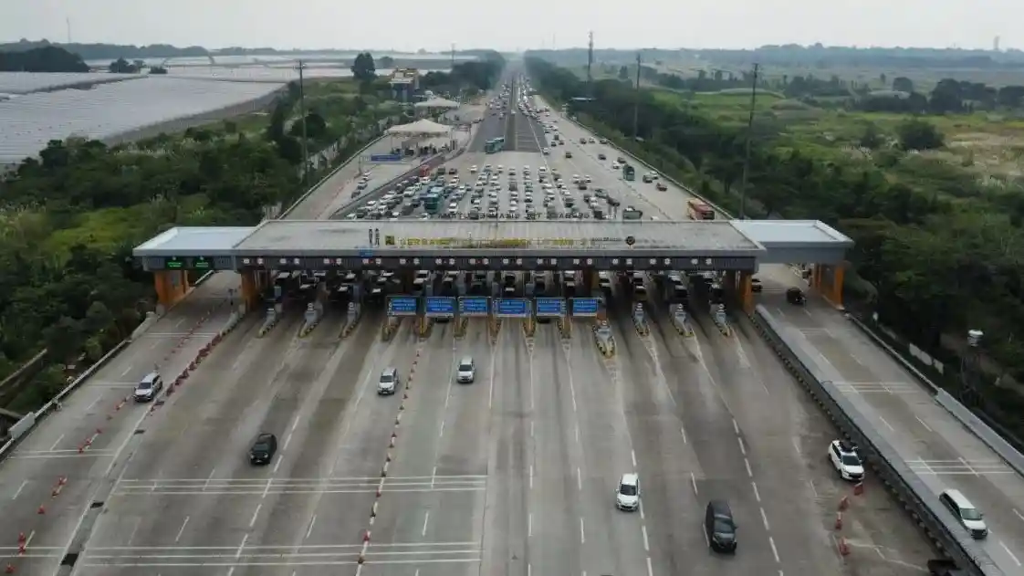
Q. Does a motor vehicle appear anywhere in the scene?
Yes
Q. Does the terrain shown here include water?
No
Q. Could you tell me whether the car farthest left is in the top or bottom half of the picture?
bottom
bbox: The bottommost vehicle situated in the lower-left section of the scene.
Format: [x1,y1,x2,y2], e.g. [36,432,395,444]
[248,427,279,463]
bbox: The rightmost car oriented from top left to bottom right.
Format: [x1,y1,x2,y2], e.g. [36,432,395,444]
[935,481,998,533]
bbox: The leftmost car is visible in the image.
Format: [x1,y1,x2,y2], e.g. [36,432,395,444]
[133,371,163,399]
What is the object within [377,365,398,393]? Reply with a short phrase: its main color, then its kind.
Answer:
gray car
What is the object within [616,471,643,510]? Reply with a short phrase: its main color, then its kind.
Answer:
white car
